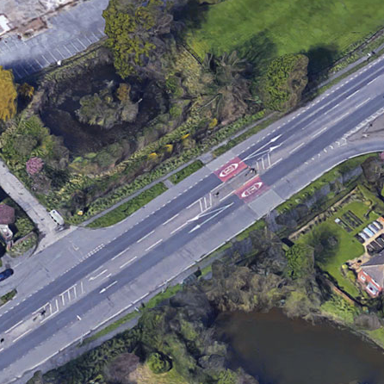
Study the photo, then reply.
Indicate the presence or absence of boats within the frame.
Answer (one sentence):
No, I can't see a single boat in this photo.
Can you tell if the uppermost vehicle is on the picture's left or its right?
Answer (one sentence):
It is on the left.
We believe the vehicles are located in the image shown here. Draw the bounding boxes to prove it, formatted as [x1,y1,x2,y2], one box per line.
[45,205,67,230]
[0,268,13,282]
